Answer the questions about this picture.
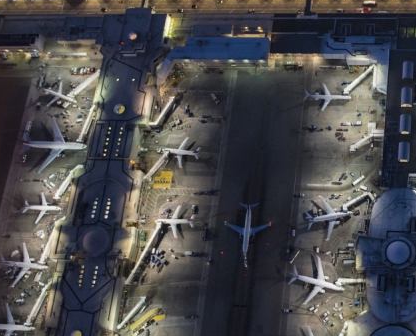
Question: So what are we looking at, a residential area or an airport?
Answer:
airport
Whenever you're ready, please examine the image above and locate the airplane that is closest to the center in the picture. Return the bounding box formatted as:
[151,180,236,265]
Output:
[163,135,199,169]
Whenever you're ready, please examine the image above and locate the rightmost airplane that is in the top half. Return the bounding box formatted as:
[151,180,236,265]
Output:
[303,83,351,110]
